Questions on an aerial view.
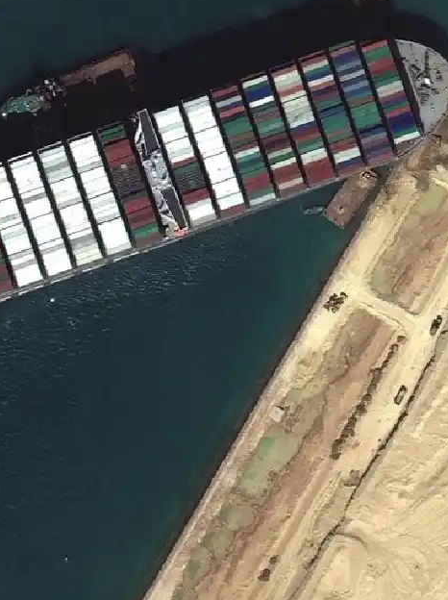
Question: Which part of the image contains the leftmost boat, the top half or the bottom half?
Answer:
top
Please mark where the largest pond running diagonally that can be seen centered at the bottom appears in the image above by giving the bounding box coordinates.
[242,428,296,492]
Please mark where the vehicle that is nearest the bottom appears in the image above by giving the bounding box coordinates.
[394,385,407,404]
